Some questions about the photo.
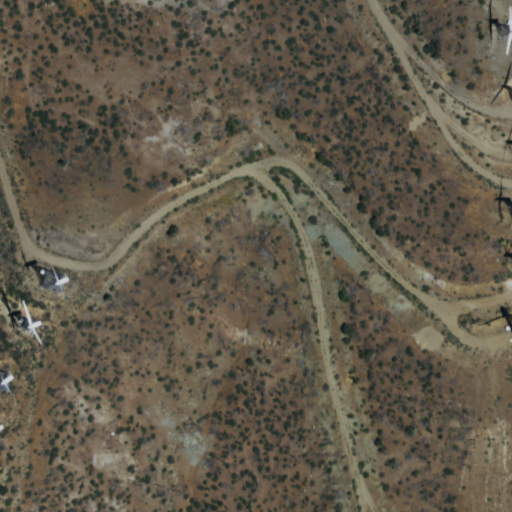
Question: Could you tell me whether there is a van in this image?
No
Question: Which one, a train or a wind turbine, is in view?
wind turbine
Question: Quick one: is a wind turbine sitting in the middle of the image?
No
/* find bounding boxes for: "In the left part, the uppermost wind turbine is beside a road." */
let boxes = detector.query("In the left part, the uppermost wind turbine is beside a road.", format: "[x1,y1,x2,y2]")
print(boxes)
[43,266,68,296]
